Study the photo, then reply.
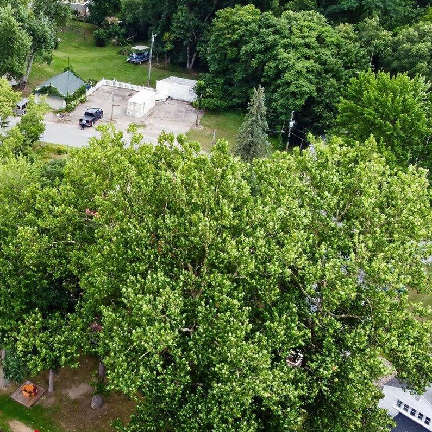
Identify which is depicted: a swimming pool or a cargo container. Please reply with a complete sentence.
Of the two, only a cargo container appears.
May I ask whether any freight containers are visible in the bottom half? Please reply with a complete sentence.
No, no freight container appears in the bottom half.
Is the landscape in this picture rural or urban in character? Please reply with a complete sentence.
This place is rural.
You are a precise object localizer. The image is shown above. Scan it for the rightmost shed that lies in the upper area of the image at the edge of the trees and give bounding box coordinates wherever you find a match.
[156,70,213,102]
